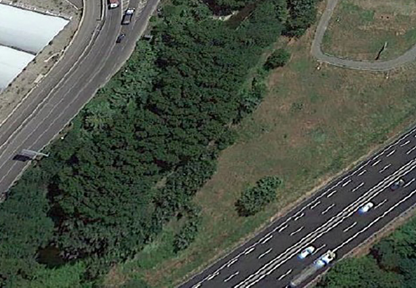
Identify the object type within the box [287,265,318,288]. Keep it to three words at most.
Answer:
truck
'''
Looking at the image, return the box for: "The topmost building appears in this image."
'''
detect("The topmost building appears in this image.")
[0,3,72,61]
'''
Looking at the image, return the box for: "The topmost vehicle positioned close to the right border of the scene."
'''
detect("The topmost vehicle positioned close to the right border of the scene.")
[391,179,406,191]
